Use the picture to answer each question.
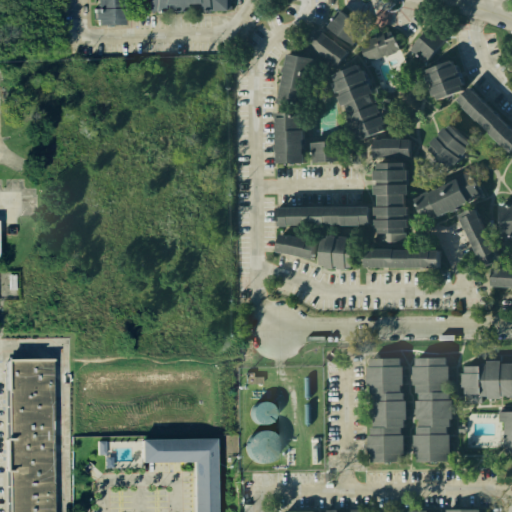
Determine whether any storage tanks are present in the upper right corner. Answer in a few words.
No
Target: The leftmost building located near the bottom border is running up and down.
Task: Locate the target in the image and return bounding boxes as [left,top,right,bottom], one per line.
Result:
[6,359,56,512]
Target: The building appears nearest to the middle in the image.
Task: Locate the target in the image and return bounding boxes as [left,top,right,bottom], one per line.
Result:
[270,235,316,260]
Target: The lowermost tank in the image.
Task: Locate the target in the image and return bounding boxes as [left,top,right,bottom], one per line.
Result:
[245,429,282,464]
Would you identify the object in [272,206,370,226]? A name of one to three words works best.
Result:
building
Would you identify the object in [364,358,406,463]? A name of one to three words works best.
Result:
building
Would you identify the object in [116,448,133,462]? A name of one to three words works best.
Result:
swimming pool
